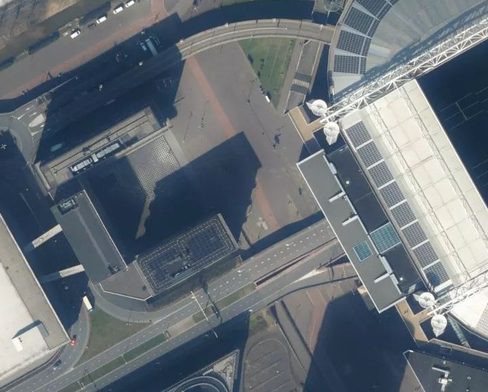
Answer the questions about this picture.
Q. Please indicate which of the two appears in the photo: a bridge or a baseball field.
bridge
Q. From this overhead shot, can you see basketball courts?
No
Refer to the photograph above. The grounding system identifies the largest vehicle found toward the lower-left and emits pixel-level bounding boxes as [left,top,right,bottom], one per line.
[82,292,95,315]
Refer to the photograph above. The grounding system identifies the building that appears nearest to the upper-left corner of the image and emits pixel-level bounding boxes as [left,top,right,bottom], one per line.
[36,106,169,196]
